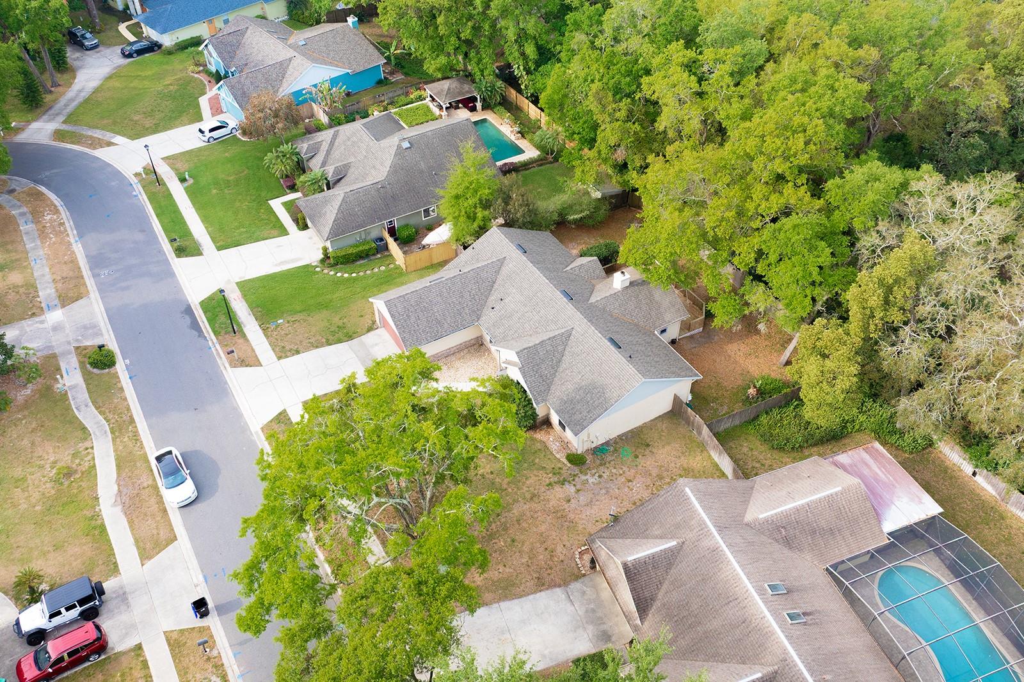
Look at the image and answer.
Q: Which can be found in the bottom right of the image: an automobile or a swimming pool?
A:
swimming pool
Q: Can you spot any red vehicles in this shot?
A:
Yes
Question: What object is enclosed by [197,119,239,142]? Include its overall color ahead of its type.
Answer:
white car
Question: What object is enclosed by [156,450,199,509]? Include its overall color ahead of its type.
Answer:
white car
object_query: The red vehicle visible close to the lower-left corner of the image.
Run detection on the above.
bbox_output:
[19,622,109,682]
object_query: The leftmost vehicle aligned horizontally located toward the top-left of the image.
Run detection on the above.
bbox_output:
[121,38,160,57]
